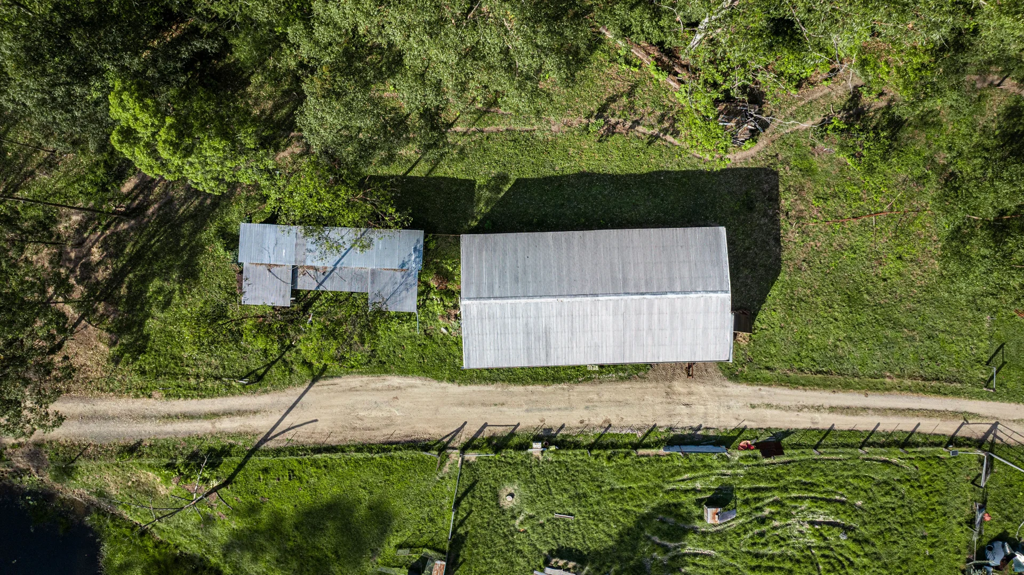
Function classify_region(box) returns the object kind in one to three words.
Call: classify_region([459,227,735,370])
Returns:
shed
